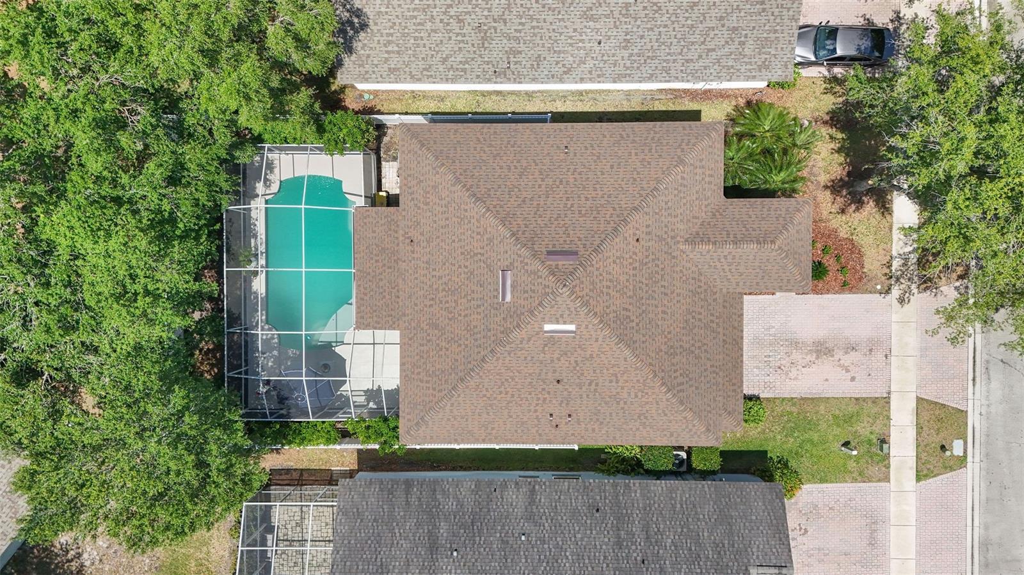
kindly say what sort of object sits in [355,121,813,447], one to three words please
house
